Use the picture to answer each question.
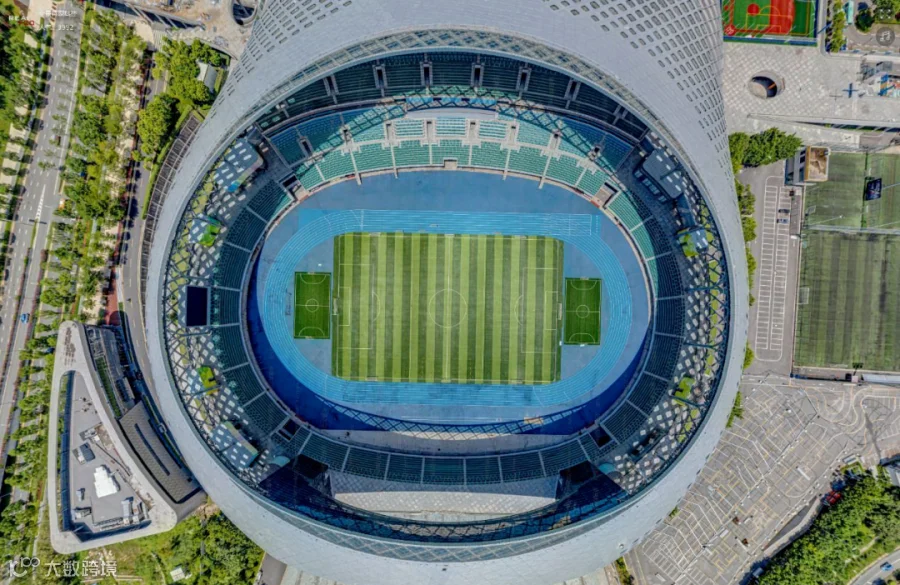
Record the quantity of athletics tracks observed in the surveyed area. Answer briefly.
1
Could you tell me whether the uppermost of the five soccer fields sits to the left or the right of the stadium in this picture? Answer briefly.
to the right of it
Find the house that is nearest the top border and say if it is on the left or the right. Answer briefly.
left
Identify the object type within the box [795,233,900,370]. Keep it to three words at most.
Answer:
soccer field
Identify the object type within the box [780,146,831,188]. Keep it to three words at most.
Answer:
building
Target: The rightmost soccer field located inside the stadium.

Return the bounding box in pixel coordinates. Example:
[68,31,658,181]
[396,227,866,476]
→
[563,278,601,346]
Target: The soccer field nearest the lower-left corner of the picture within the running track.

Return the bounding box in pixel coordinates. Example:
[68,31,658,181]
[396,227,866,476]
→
[294,271,331,339]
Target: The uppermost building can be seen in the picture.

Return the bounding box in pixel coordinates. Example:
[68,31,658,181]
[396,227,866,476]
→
[196,61,221,98]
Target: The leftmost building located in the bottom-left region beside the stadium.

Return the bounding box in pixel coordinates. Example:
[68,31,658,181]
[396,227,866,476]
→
[49,321,207,553]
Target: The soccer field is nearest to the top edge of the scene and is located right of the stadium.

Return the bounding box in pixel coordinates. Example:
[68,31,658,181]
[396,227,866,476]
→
[803,152,900,227]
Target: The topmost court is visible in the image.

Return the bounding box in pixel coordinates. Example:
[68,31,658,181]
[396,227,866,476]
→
[719,0,824,47]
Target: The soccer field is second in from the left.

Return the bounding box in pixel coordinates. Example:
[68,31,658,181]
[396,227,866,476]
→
[333,233,562,382]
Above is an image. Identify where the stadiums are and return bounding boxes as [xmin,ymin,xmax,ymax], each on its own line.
[145,0,749,585]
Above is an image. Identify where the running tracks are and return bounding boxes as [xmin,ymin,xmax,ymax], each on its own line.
[263,209,633,425]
